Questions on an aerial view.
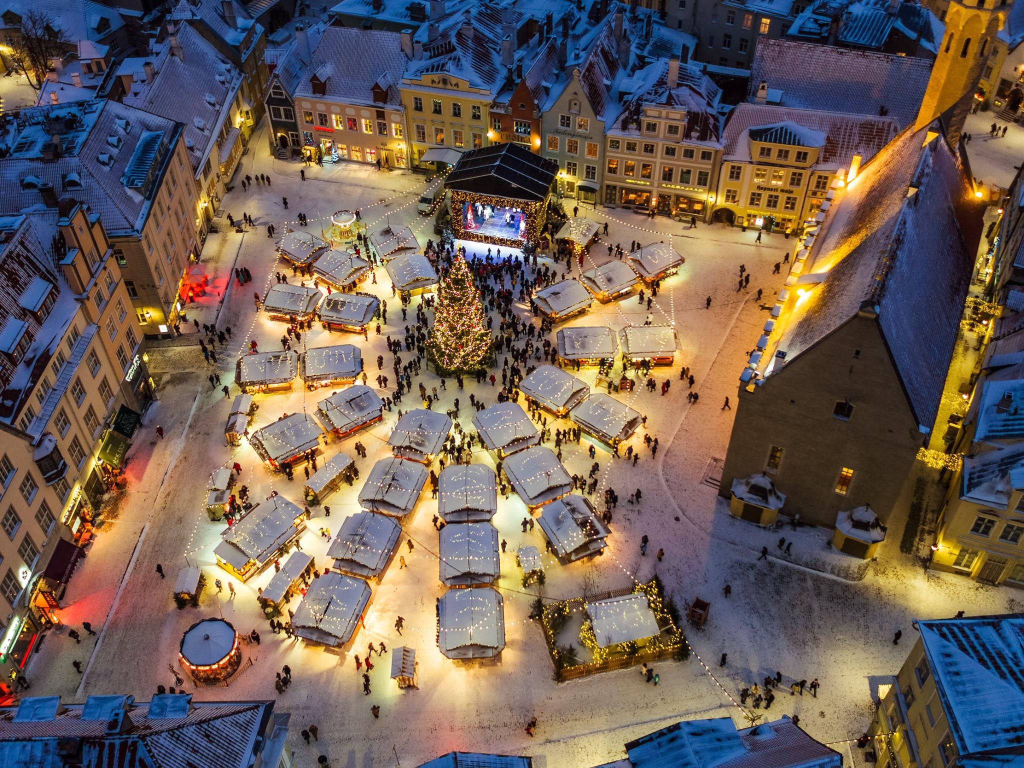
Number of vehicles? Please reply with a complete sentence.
The picture shows just 1 vehicle.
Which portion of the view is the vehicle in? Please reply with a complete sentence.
Look in the top portion of the view to spot the vehicle.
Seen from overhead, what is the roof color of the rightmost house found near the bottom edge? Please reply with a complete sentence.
The roof of the rightmost house found near the bottom edge is blue.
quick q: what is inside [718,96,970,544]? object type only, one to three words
building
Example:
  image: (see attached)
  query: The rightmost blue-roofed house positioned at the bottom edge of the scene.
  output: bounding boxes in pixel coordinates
[865,615,1024,768]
